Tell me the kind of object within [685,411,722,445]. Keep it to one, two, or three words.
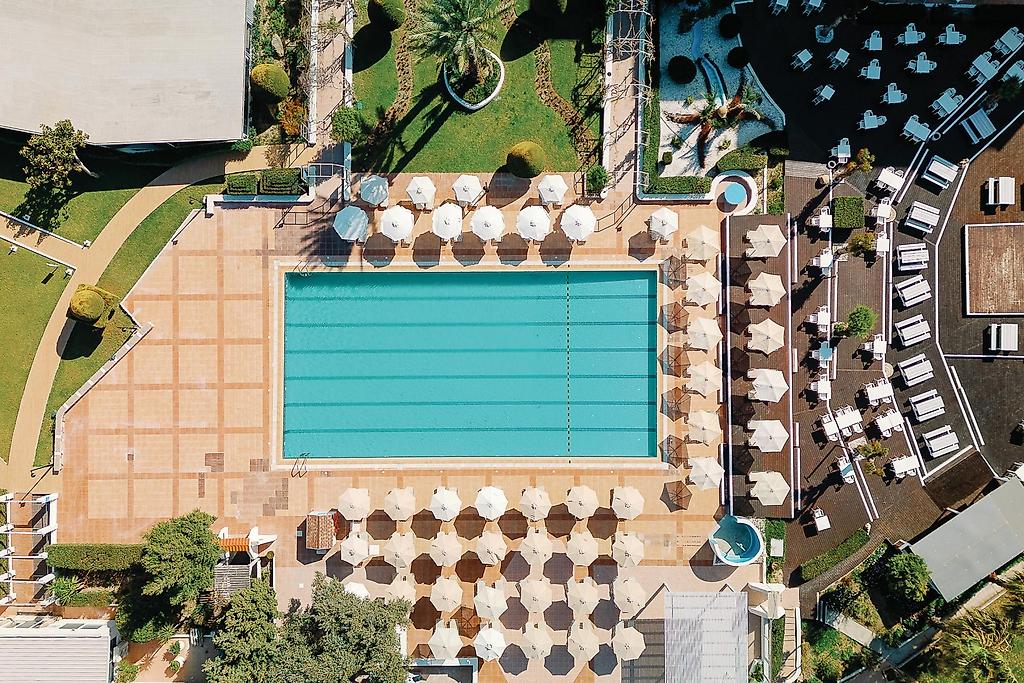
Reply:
umbrella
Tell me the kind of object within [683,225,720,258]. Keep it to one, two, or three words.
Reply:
umbrella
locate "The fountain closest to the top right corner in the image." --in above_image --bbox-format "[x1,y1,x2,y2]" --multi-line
[713,170,761,215]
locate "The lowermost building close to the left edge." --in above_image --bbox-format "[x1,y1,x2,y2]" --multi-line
[0,615,124,683]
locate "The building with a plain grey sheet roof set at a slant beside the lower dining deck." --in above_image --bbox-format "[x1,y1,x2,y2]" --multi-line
[892,463,1024,603]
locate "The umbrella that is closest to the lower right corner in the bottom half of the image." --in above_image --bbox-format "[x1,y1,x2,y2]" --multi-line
[749,470,788,506]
